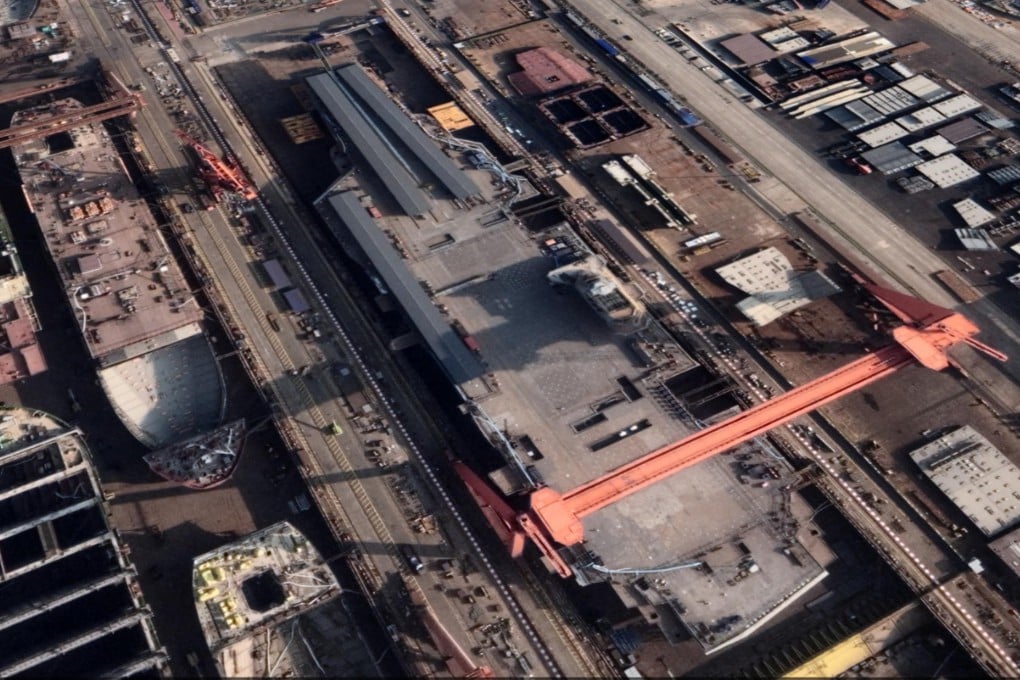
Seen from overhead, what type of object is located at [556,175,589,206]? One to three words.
shed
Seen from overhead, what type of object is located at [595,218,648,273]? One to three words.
shed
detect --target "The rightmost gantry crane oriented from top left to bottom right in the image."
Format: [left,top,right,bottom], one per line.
[405,577,495,680]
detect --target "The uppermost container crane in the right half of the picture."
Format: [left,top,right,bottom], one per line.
[440,259,1014,590]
